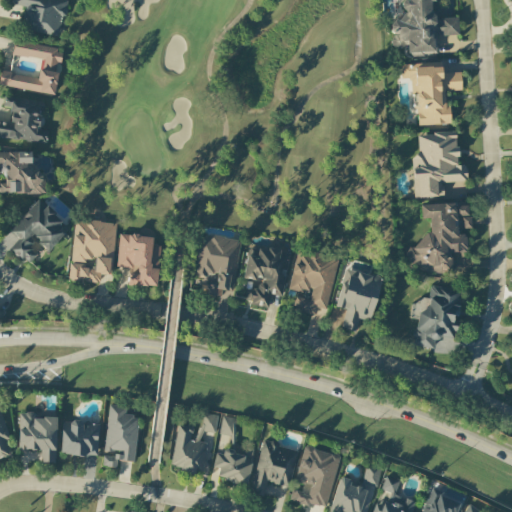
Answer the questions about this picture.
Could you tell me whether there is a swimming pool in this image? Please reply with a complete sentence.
Yes, you can see a swimming pool in this photo.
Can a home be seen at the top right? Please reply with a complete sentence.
Yes, there is a home at the top right.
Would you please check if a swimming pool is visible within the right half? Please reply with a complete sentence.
Yes, a swimming pool appears within the right half.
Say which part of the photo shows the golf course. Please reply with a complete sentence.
The golf course appears toward the top of the photo.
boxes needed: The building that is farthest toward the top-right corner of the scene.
[441,17,460,36]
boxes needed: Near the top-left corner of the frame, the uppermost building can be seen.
[15,0,72,40]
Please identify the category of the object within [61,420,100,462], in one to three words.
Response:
house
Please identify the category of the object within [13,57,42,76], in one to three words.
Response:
swimming pool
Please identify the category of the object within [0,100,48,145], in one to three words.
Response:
house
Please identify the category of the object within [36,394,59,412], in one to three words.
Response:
swimming pool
